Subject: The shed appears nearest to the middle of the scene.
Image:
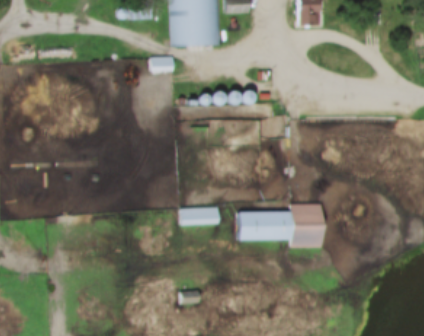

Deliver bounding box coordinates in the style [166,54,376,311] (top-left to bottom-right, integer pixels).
[177,208,218,226]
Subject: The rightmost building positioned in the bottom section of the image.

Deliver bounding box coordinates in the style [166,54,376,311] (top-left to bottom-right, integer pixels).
[288,204,325,248]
